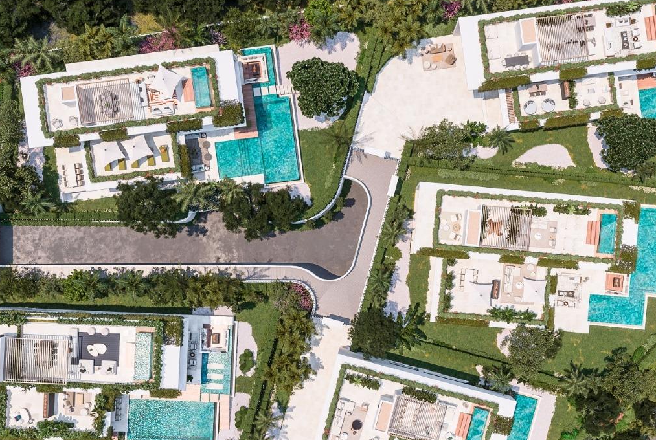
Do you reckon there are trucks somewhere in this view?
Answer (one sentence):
No, no truck can be seen from above.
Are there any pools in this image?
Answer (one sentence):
Yes, the image includes a pool.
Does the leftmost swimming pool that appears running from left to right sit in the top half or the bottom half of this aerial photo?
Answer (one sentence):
The leftmost swimming pool that appears running from left to right is in the bottom half of the image.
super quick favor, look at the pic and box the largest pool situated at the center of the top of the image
[215,43,305,188]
